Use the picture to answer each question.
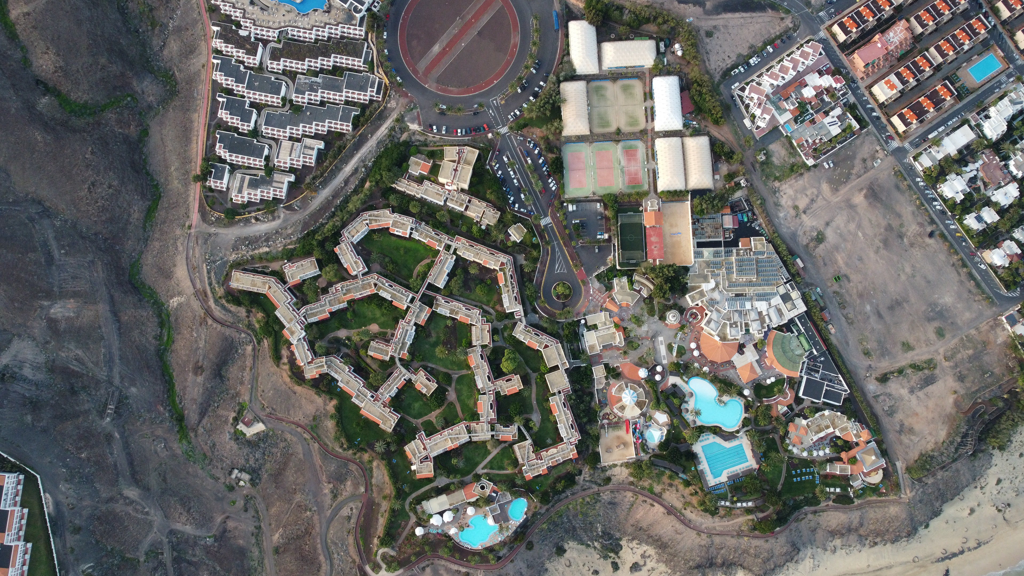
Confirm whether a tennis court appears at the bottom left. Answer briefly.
No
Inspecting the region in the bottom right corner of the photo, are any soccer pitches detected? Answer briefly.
No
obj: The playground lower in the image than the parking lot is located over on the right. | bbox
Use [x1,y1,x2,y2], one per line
[599,417,642,464]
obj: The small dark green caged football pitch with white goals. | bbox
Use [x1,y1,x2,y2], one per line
[618,211,646,262]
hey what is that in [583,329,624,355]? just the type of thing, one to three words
building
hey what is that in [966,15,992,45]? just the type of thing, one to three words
house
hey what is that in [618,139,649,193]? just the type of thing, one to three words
tennis court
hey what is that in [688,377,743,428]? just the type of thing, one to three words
swimming pool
